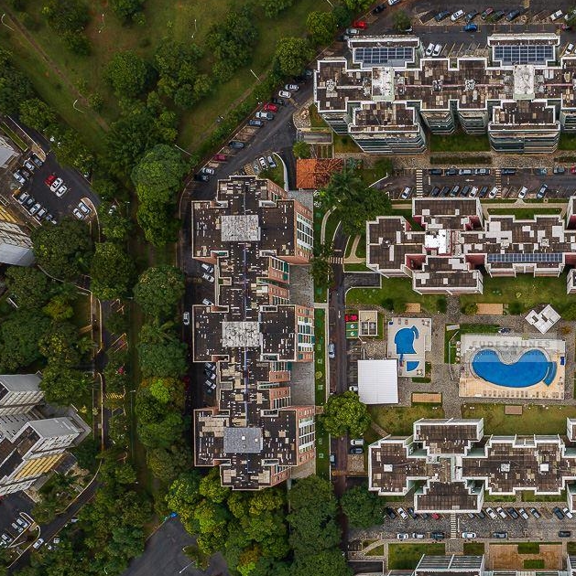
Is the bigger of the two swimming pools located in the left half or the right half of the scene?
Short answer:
right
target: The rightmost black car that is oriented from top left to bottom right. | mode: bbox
[550,505,564,520]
